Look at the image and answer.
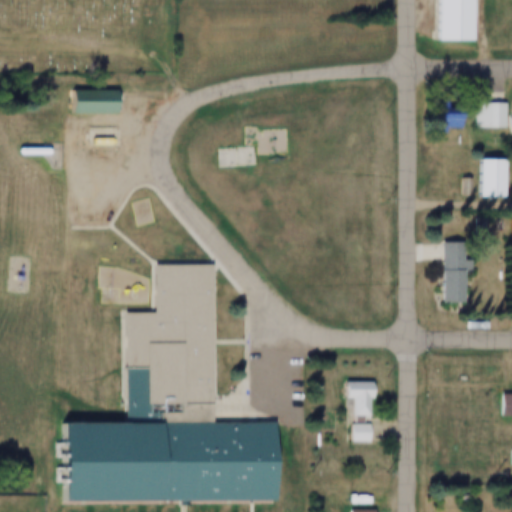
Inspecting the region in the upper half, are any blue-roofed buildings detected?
Yes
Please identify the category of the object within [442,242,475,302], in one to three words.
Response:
house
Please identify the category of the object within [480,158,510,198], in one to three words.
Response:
shed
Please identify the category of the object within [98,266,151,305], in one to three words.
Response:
playground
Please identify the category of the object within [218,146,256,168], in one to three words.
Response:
basketball court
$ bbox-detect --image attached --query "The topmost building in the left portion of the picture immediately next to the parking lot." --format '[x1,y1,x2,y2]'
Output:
[122,264,218,423]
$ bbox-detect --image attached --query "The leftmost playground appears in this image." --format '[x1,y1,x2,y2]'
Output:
[8,256,30,294]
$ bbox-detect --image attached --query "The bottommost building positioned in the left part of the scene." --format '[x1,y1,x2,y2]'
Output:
[56,422,282,501]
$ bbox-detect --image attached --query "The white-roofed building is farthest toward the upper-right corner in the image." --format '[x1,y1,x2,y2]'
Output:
[436,0,478,42]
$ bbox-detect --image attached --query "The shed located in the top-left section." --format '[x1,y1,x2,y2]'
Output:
[74,90,123,113]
